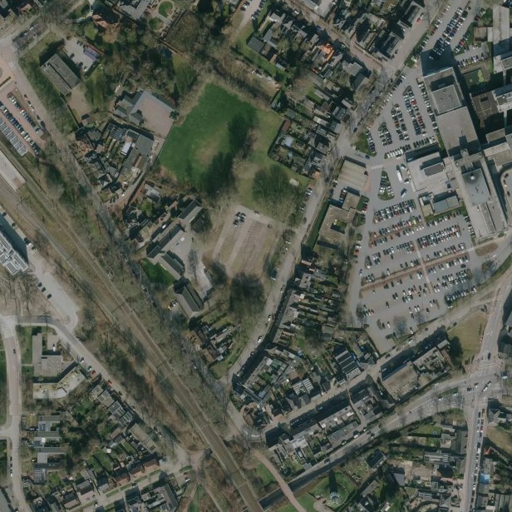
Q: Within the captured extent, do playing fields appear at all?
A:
Yes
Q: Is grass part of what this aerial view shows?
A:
Yes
